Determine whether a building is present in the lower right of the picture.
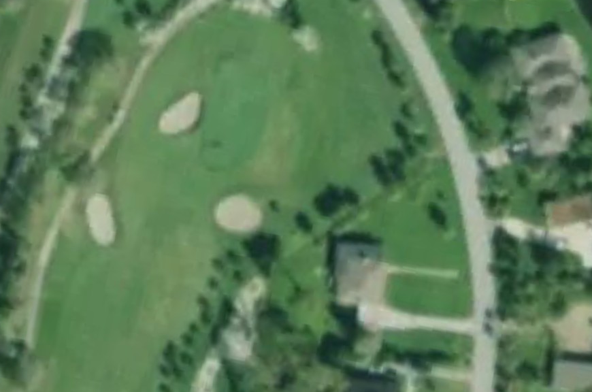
Yes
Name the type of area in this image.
golf course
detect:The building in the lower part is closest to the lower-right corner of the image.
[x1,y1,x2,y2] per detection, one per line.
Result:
[555,360,592,392]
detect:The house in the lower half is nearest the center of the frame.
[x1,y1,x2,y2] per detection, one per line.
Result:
[335,241,382,306]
